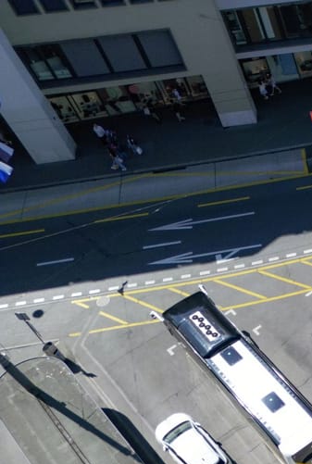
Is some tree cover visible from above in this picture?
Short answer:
No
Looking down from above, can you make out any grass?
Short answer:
No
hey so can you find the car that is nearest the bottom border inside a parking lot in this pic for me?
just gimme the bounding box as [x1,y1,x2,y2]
[159,413,229,464]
